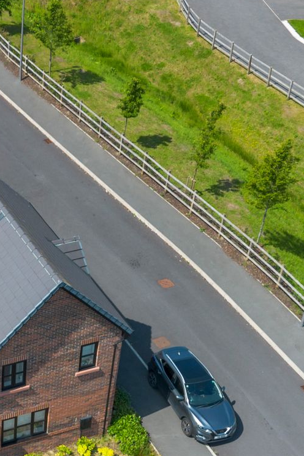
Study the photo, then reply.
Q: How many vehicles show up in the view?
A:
1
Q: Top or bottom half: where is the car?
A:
bottom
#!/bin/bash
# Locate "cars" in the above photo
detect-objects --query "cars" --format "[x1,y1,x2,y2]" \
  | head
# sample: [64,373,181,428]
[146,342,245,444]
